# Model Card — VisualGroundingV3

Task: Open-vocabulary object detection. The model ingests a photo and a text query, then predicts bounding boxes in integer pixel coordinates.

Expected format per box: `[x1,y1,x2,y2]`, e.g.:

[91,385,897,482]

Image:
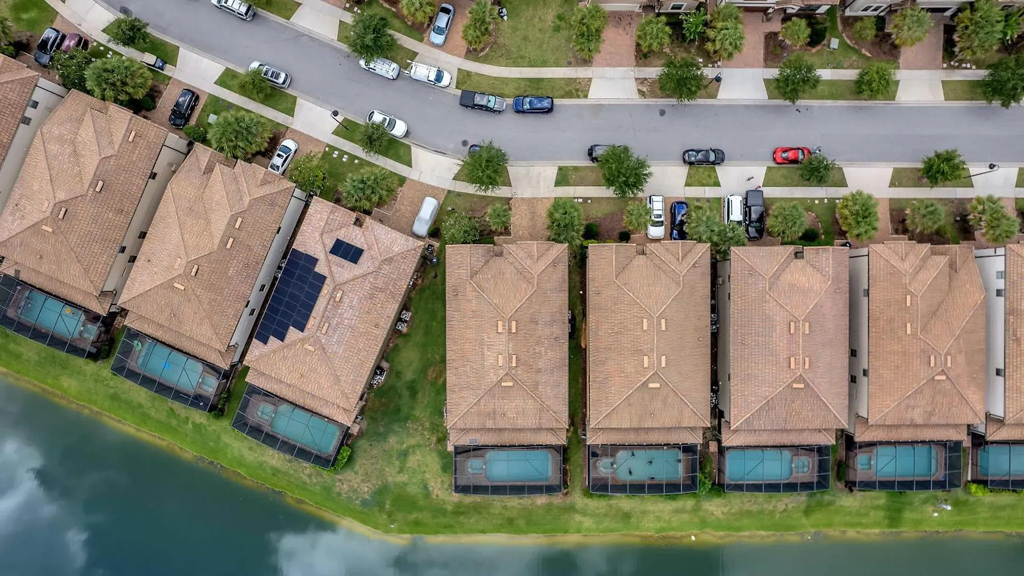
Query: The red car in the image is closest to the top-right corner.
[772,145,812,165]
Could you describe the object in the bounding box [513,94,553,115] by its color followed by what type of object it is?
blue car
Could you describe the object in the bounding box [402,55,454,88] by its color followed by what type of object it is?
white truck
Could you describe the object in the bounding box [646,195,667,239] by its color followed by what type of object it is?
white car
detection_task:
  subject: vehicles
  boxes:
[772,145,812,165]
[513,94,553,115]
[586,144,619,163]
[723,195,745,226]
[682,146,724,166]
[646,195,667,239]
[669,201,687,239]
[358,56,402,84]
[211,0,257,25]
[170,86,200,130]
[402,55,454,88]
[61,25,91,58]
[365,109,410,140]
[268,137,298,177]
[34,23,67,68]
[744,189,765,239]
[249,60,294,92]
[430,2,455,47]
[138,48,169,71]
[459,90,506,114]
